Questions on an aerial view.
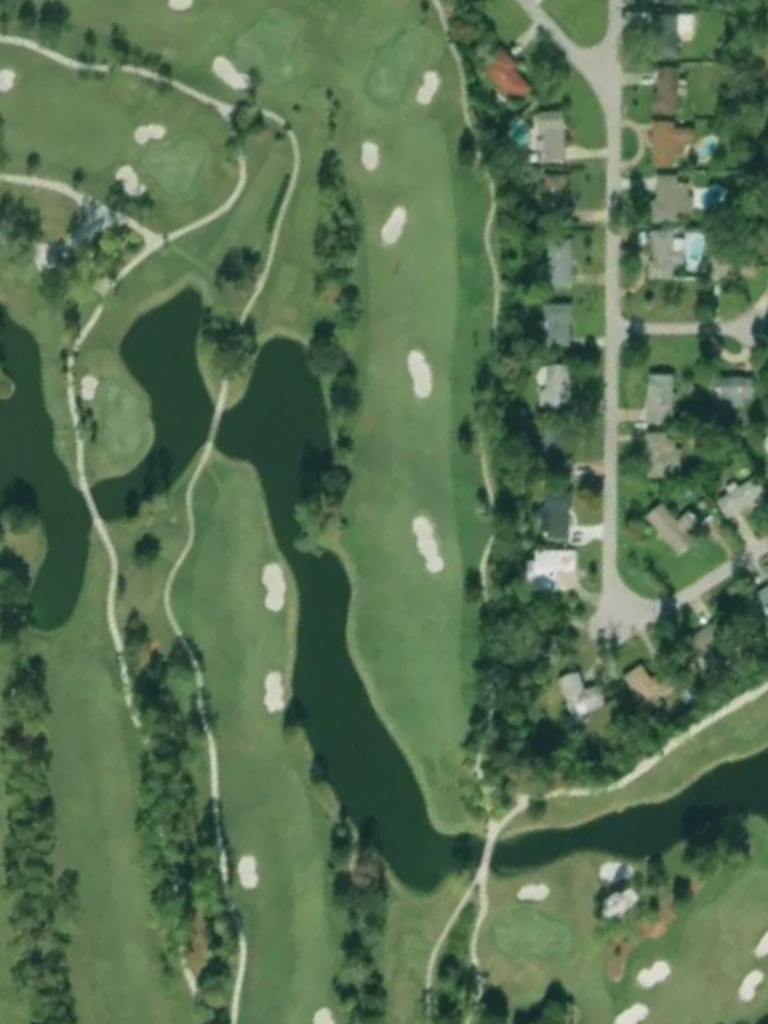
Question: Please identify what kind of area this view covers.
golf course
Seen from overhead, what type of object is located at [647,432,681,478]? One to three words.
house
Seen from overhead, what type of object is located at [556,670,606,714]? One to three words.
house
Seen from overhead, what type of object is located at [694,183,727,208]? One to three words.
swimming pool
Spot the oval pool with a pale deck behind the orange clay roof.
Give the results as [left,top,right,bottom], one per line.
[696,135,718,164]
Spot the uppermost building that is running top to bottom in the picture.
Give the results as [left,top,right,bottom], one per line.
[661,13,680,62]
